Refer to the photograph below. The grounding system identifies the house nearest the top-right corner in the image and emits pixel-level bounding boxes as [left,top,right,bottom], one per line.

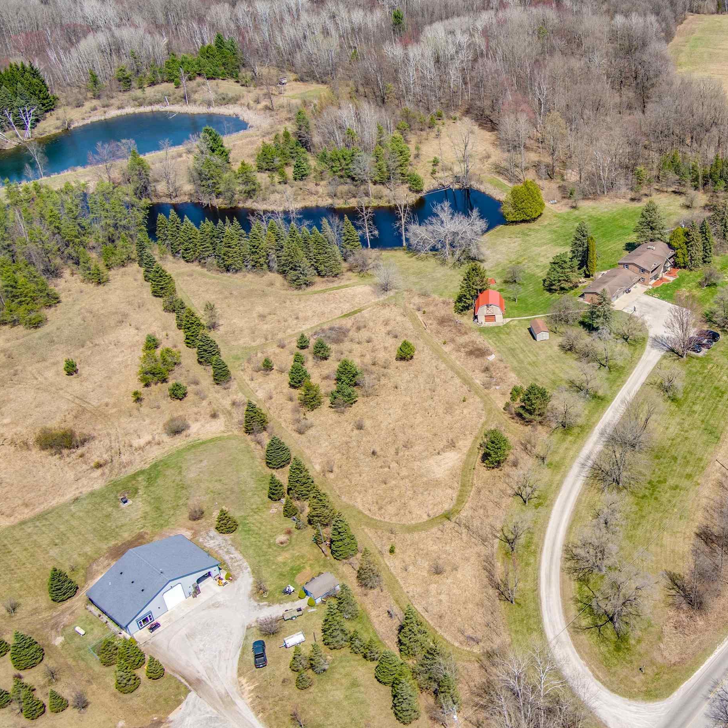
[581,241,676,304]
